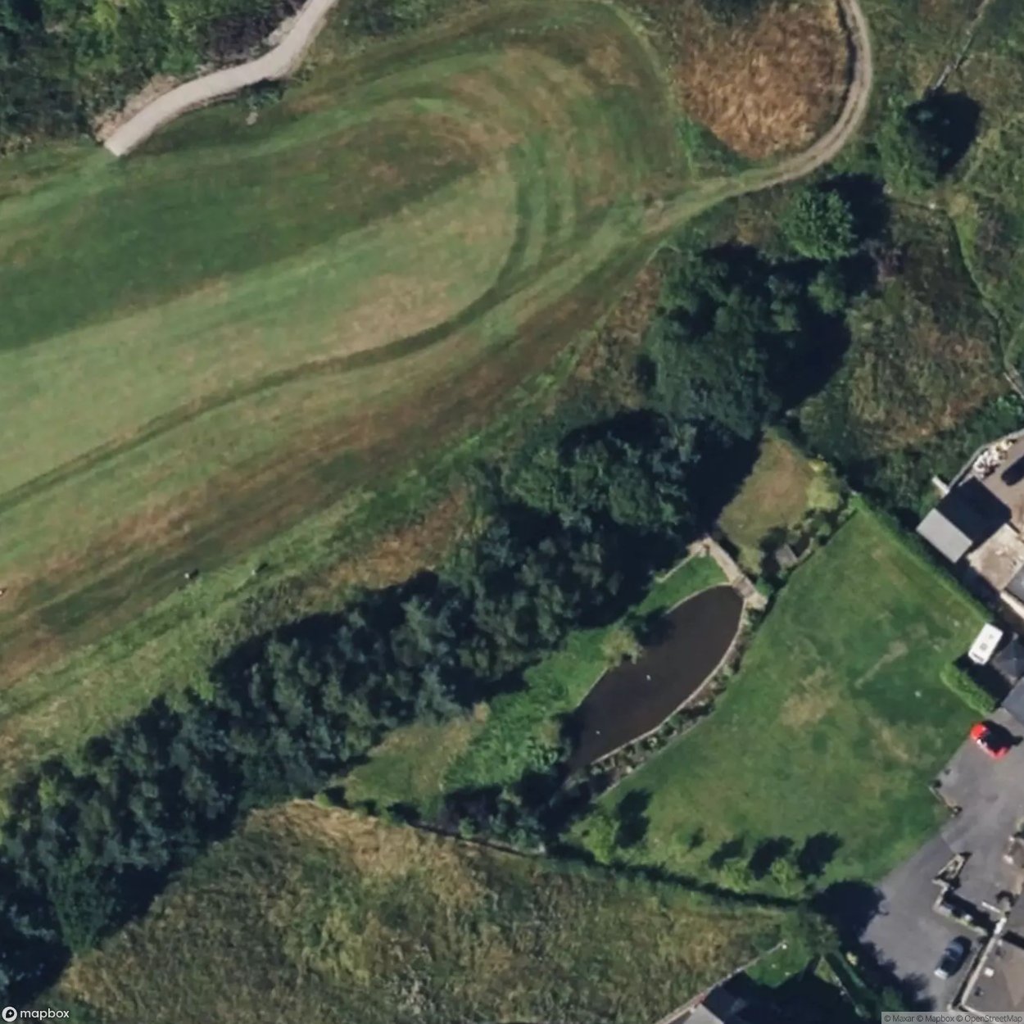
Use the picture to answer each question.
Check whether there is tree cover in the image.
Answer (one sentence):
Yes, tree cover shows up in the scene.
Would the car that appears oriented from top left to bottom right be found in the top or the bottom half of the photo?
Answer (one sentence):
Seen from above, the car that appears oriented from top left to bottom right lies in the bottom half of the view.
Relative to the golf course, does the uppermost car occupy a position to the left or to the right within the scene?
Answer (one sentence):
Relative to the golf course, the uppermost car lies to the right.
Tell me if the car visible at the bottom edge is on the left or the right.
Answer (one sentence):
It is on the right.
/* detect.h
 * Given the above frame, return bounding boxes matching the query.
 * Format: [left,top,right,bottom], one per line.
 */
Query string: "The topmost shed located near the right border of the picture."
[918,508,976,563]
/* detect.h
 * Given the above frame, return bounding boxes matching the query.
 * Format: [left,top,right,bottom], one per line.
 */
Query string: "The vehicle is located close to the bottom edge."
[936,935,970,980]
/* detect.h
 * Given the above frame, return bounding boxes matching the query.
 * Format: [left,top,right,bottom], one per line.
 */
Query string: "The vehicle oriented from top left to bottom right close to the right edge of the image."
[969,725,1010,762]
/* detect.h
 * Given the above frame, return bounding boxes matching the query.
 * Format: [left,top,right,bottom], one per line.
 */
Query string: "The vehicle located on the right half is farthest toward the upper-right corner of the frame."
[1002,451,1024,482]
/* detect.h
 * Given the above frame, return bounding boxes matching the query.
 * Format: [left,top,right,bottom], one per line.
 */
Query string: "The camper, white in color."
[970,624,1004,665]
